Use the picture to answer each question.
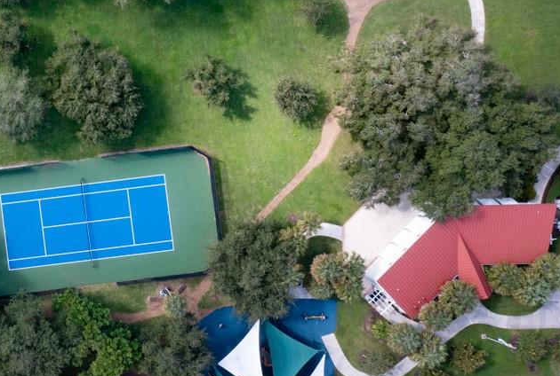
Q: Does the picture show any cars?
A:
No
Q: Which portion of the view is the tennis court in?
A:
left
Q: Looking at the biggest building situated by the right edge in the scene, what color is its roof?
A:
red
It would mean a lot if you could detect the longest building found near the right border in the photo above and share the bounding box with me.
[364,196,557,319]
